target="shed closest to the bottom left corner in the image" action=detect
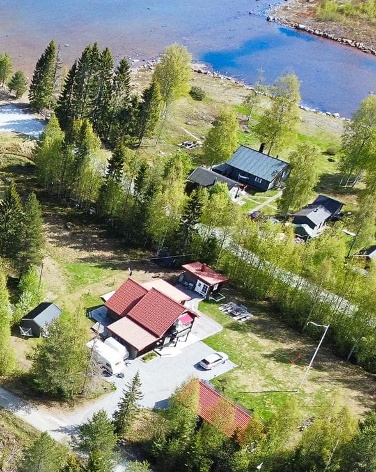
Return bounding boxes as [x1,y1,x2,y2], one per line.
[23,301,65,340]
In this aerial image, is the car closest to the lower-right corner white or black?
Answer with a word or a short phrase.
white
